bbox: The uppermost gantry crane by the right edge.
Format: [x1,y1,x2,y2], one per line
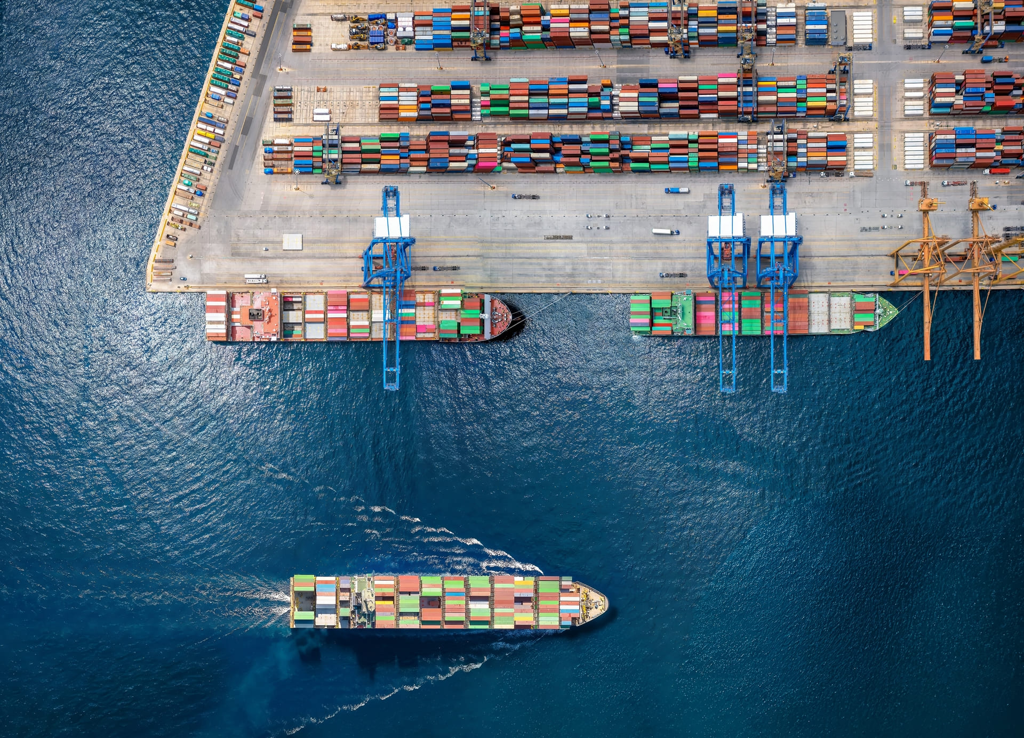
[960,0,996,56]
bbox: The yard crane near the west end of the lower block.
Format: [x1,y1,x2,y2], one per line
[322,117,352,187]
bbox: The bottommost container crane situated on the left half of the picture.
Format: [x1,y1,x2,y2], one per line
[371,184,425,397]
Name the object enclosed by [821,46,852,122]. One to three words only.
container crane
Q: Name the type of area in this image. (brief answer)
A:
port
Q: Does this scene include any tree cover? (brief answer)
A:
No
